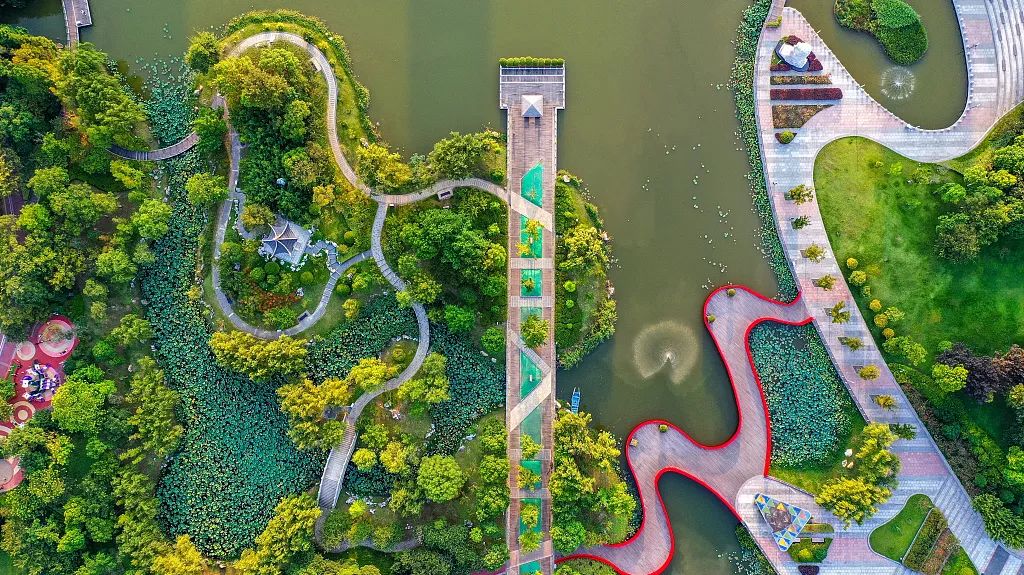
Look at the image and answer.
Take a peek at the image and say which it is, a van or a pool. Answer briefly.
pool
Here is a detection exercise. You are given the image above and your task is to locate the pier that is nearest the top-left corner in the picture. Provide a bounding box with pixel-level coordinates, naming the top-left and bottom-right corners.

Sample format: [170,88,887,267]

[61,0,93,47]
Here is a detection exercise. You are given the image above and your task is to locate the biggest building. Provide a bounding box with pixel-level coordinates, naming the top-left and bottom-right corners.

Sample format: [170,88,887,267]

[256,215,311,265]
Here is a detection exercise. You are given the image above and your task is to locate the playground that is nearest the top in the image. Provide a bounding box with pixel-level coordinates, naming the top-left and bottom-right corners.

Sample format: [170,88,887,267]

[0,314,81,442]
